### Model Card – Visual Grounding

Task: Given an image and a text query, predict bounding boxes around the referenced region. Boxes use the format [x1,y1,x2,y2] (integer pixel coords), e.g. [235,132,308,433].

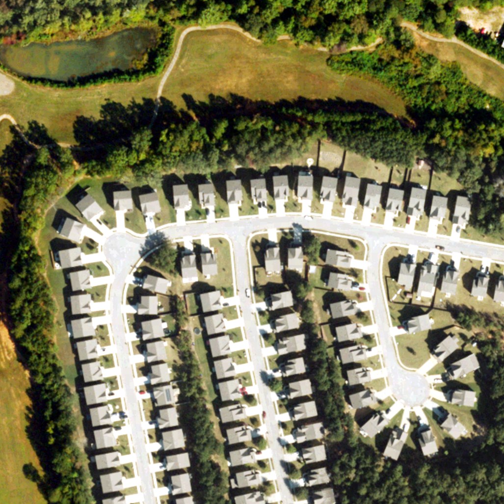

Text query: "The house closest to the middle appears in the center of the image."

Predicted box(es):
[265,248,281,272]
